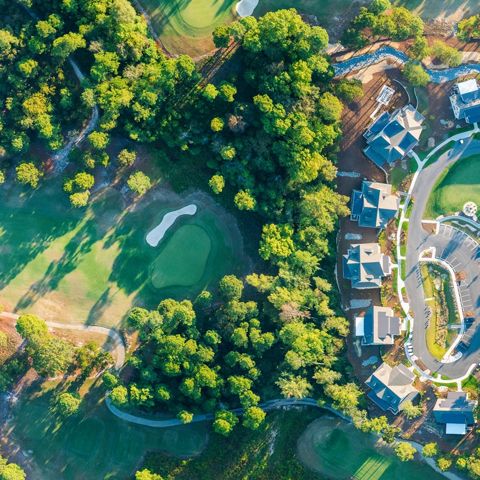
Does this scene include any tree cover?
Yes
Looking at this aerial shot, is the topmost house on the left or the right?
right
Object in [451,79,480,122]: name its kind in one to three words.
house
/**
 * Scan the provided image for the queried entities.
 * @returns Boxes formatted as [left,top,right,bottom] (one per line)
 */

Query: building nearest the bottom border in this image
[436,389,477,433]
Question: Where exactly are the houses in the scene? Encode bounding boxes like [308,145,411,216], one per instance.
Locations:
[350,182,400,229]
[451,79,480,122]
[436,389,477,433]
[362,106,427,166]
[366,361,421,413]
[341,243,391,289]
[357,306,400,346]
